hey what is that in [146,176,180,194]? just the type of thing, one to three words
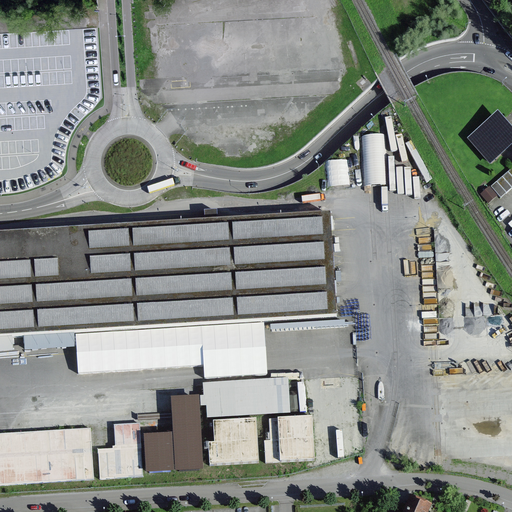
vehicle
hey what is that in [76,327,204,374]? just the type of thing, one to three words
building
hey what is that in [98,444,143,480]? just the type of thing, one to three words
building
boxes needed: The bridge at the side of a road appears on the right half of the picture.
[374,56,418,118]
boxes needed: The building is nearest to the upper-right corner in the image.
[466,108,512,164]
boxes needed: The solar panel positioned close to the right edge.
[468,110,512,162]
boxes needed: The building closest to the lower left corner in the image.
[0,428,94,485]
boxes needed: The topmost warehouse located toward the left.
[0,208,337,336]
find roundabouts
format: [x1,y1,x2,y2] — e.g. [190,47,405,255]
[84,116,173,206]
